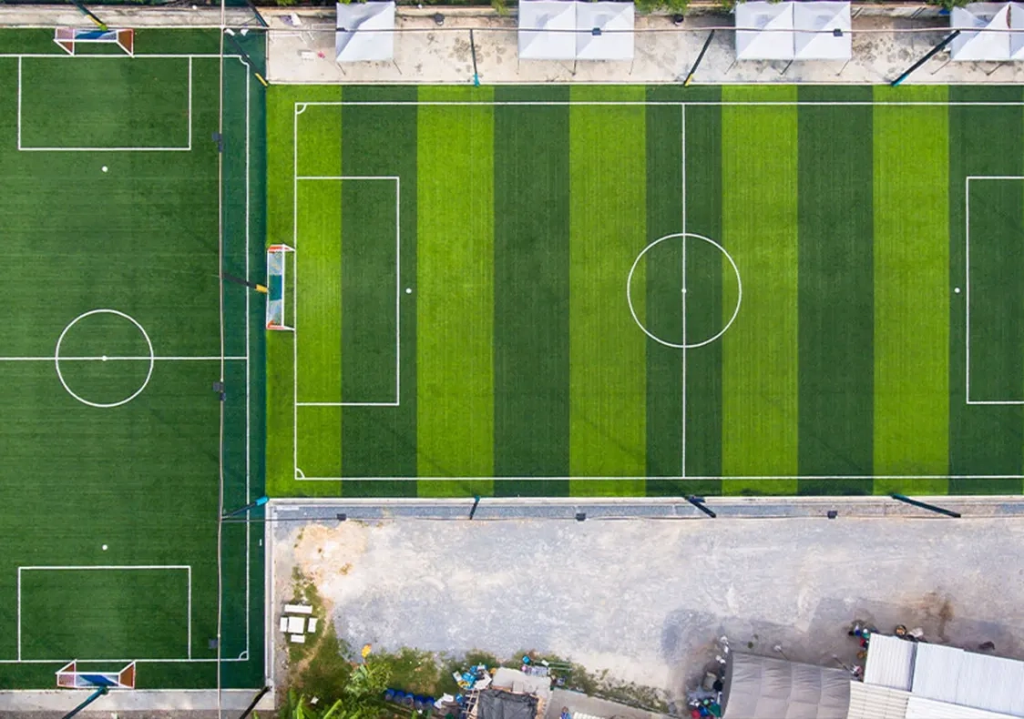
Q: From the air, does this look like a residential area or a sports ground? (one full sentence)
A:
The area seen from above is a sports ground.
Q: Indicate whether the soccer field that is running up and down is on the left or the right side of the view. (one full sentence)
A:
You can find the soccer field that is running up and down on the left side of the picture.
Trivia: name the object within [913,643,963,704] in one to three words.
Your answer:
shed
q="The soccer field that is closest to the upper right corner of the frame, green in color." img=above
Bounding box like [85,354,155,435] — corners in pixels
[266,86,1024,498]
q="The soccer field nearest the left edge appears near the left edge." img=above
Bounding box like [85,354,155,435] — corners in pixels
[0,27,263,689]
